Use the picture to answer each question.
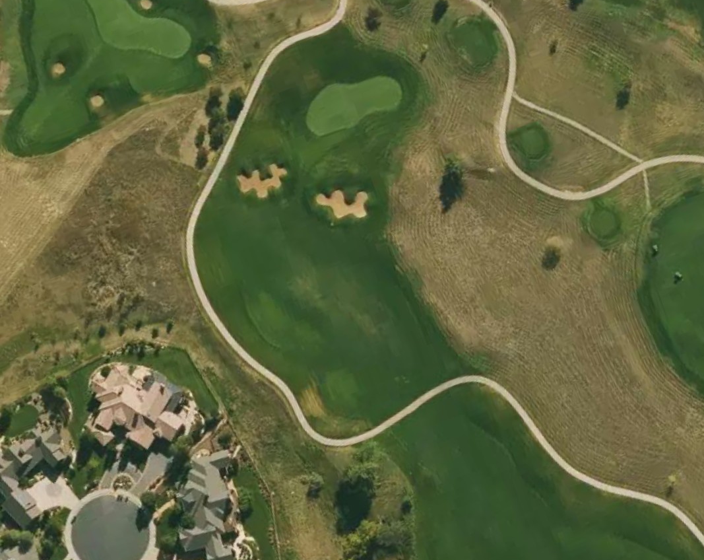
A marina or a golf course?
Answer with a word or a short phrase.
golf course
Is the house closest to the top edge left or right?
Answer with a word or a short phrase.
left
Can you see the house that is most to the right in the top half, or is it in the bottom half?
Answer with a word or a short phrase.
bottom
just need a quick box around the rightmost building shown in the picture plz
[176,447,234,560]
